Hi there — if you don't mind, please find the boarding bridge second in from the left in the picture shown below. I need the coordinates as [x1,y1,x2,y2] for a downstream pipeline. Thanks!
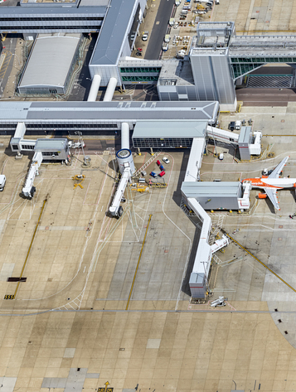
[109,165,131,220]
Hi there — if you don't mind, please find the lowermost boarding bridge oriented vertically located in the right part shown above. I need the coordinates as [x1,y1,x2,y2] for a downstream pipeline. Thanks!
[236,179,254,219]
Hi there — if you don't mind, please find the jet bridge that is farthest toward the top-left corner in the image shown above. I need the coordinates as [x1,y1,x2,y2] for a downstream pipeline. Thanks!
[22,152,44,199]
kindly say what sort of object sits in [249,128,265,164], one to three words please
jet bridge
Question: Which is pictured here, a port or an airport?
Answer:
airport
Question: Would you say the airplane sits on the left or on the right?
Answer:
right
